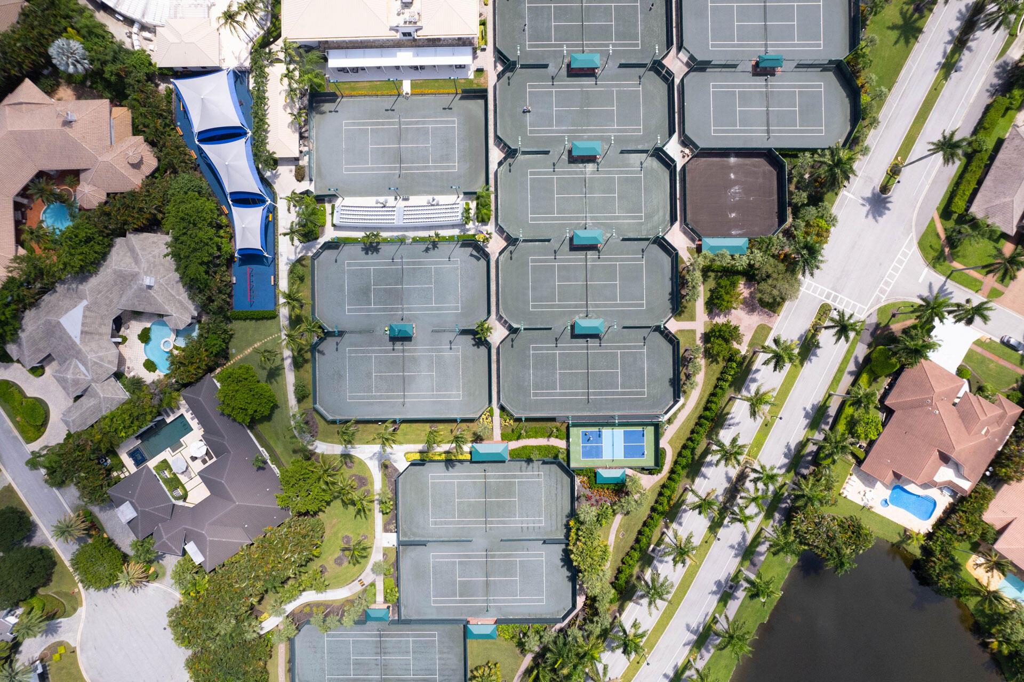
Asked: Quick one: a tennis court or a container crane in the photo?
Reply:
tennis court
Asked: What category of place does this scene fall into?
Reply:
residential area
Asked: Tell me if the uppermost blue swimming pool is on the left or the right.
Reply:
left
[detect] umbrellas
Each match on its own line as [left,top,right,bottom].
[172,457,188,472]
[191,440,208,456]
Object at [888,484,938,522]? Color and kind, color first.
blue swimming pool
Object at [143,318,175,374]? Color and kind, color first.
blue swimming pool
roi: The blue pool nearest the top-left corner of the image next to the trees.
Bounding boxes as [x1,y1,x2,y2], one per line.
[40,195,80,234]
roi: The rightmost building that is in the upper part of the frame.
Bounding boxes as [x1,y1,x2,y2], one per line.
[964,114,1024,236]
